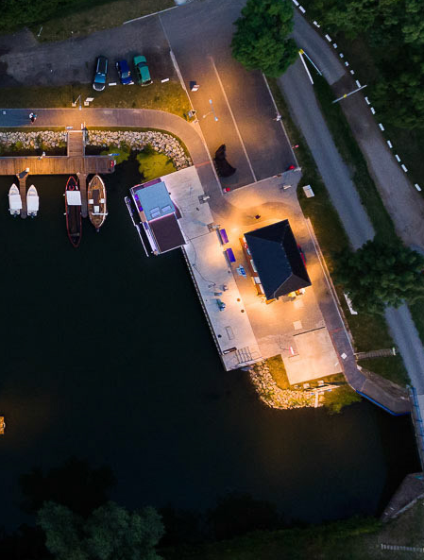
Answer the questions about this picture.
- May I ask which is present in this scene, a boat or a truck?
boat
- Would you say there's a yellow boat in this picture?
No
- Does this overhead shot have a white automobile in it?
No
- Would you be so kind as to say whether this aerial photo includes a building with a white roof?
No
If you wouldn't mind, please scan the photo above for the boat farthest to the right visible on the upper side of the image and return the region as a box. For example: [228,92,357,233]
[89,172,107,233]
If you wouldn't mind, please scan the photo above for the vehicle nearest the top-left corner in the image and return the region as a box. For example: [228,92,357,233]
[91,55,108,91]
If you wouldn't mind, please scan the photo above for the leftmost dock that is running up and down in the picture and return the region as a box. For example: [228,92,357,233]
[13,175,30,218]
